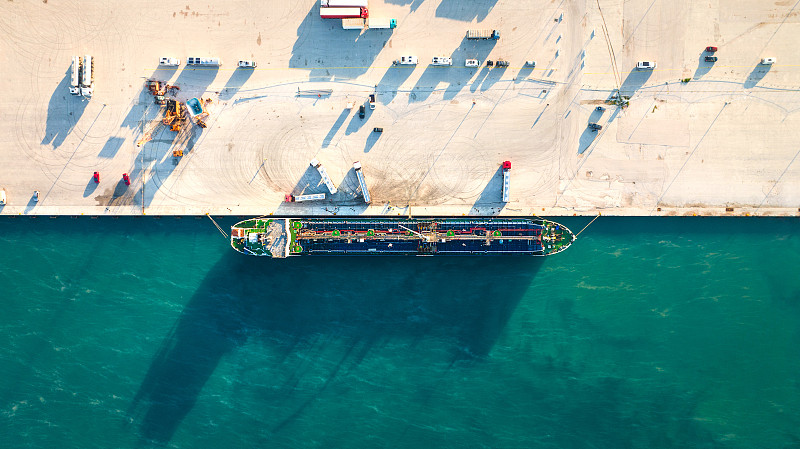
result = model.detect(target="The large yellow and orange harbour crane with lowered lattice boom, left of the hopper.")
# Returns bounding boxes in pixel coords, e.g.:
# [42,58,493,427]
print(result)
[135,98,190,147]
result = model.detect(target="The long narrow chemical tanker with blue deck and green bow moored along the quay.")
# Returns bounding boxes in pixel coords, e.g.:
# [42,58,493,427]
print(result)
[229,218,577,257]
